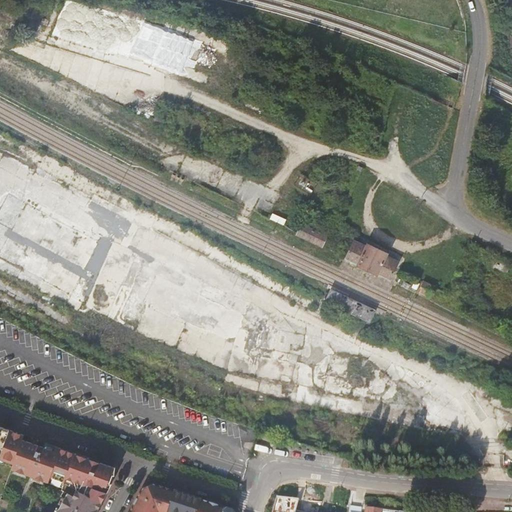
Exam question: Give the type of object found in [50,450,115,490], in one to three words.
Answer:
building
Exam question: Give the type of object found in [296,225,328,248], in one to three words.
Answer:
shed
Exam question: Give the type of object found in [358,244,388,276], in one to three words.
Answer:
building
